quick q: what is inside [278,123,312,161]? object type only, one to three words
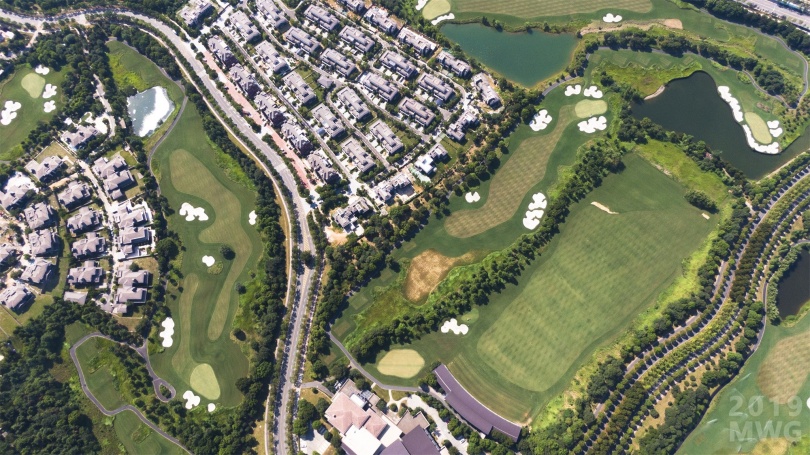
house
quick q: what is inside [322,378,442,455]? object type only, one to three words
building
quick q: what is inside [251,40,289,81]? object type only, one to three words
house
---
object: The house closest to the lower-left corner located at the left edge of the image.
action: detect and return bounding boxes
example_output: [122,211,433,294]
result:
[1,283,35,317]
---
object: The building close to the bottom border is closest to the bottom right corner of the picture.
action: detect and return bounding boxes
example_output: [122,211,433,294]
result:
[433,363,521,443]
